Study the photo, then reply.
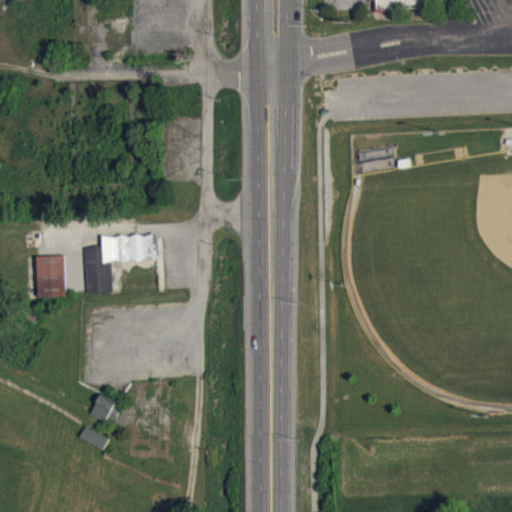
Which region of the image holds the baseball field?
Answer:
right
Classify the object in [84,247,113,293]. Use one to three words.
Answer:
building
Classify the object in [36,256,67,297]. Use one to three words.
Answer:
building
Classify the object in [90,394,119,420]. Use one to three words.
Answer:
house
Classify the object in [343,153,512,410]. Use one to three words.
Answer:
baseball field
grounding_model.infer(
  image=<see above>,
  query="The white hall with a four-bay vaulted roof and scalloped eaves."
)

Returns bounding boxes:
[103,234,156,264]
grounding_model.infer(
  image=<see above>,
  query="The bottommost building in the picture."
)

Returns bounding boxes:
[80,426,112,451]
